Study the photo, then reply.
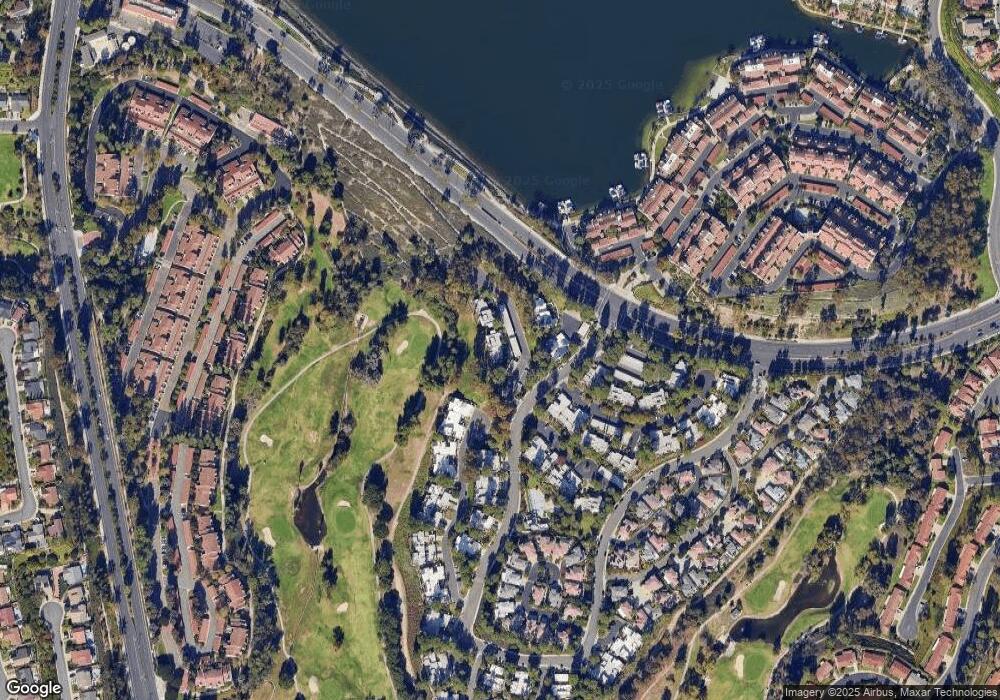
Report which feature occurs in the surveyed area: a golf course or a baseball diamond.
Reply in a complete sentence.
The one in the frame is a golf course.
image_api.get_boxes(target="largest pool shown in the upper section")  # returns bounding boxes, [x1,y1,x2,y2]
[792,203,813,223]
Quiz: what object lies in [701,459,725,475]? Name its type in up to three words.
house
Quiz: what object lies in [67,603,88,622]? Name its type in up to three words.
house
